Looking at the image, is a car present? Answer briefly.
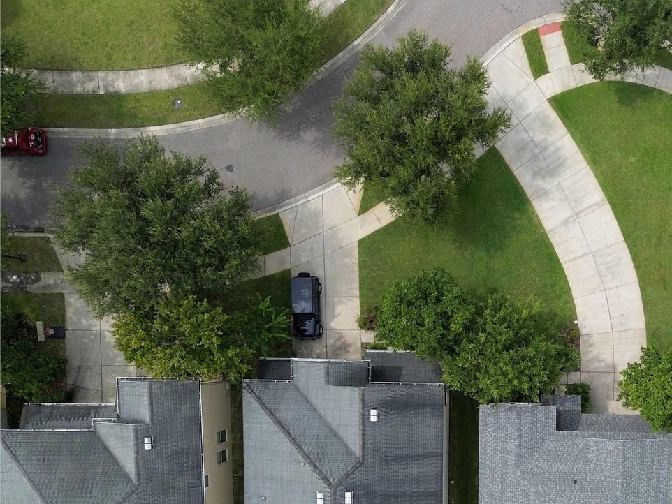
Yes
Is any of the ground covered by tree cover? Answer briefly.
Yes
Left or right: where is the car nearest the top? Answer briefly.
left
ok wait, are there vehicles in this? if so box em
[0,125,49,161]
[290,271,326,337]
